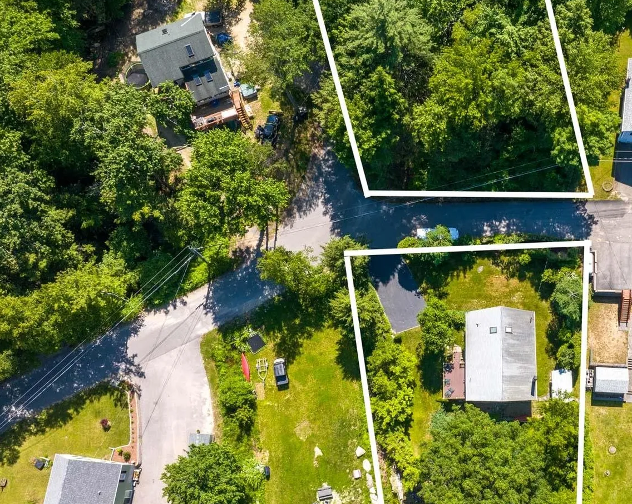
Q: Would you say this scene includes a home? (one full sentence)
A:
Yes, the picture does show a home.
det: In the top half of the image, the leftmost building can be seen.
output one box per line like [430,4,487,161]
[136,13,253,133]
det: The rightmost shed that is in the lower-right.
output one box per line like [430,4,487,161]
[593,366,629,399]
